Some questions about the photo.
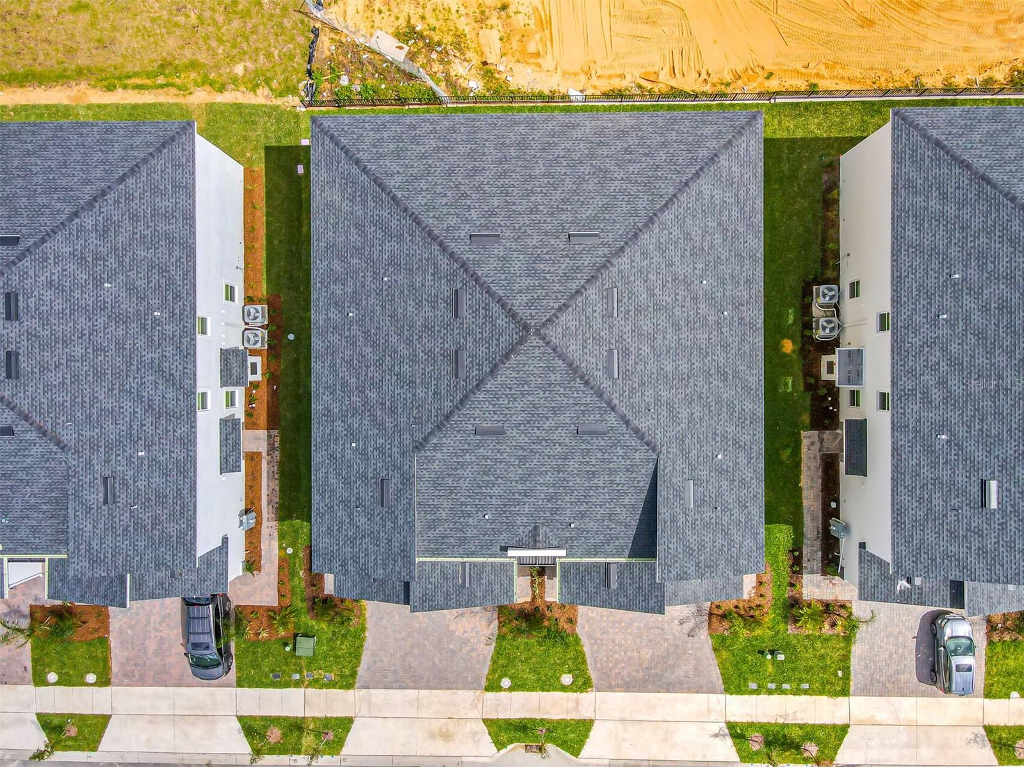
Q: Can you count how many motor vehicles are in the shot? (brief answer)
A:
two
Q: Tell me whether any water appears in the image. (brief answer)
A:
No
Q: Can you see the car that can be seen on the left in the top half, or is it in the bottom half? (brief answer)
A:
bottom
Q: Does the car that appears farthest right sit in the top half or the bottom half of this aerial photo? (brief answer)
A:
bottom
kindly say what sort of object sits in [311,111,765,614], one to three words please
house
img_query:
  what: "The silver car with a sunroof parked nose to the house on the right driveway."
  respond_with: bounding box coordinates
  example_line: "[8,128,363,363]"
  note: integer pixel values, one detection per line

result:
[931,612,984,699]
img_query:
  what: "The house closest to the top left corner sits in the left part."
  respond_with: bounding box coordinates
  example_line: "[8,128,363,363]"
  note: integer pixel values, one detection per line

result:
[0,117,247,609]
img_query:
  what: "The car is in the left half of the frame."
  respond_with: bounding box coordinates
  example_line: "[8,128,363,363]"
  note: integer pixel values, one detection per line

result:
[188,595,235,682]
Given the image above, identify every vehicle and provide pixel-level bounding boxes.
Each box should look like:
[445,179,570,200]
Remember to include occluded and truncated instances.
[188,595,235,682]
[931,612,984,699]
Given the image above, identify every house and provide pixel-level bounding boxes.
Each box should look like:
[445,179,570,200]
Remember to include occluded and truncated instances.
[0,117,247,609]
[311,111,765,614]
[836,108,1024,616]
